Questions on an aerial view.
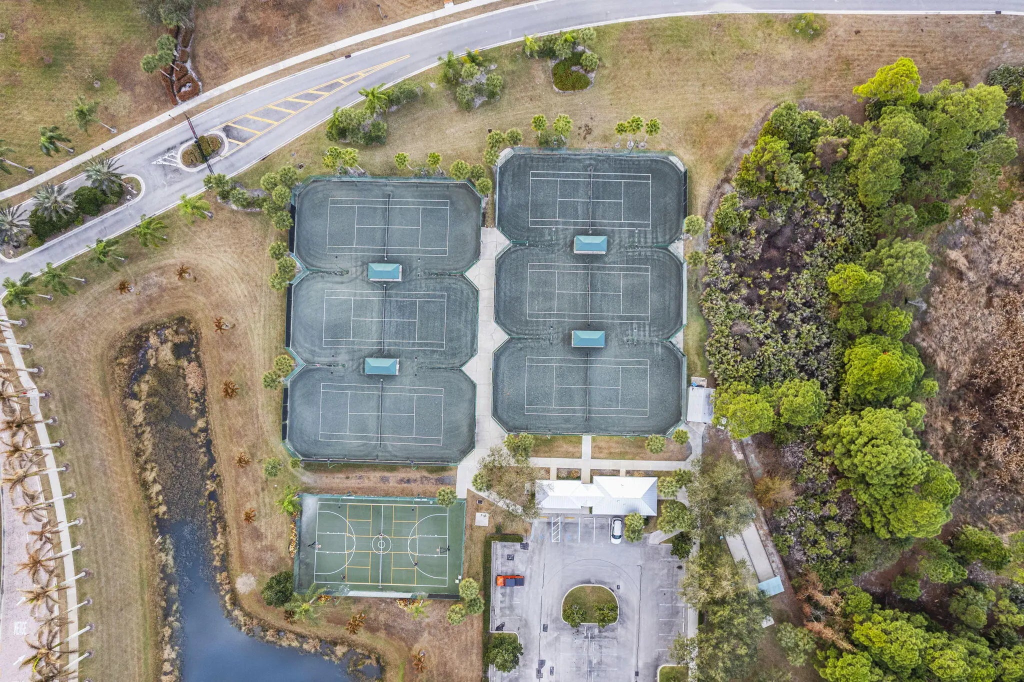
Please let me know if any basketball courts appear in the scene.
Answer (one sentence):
Yes, a basketball court can be made out from above.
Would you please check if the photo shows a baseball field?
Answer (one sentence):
No, there's no baseball field here.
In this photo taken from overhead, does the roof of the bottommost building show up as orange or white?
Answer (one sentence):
The color of the roof of the bottommost building is white.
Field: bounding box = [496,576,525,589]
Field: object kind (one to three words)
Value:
vehicle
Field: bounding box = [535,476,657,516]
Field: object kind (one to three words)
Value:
building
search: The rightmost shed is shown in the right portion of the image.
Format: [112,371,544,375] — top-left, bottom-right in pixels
[686,387,715,423]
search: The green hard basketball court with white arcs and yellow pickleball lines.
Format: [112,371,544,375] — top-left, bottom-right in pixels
[297,499,464,594]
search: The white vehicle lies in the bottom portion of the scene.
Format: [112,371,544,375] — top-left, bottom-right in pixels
[611,518,623,544]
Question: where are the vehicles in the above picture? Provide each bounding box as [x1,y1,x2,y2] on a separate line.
[496,576,525,589]
[611,518,623,544]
